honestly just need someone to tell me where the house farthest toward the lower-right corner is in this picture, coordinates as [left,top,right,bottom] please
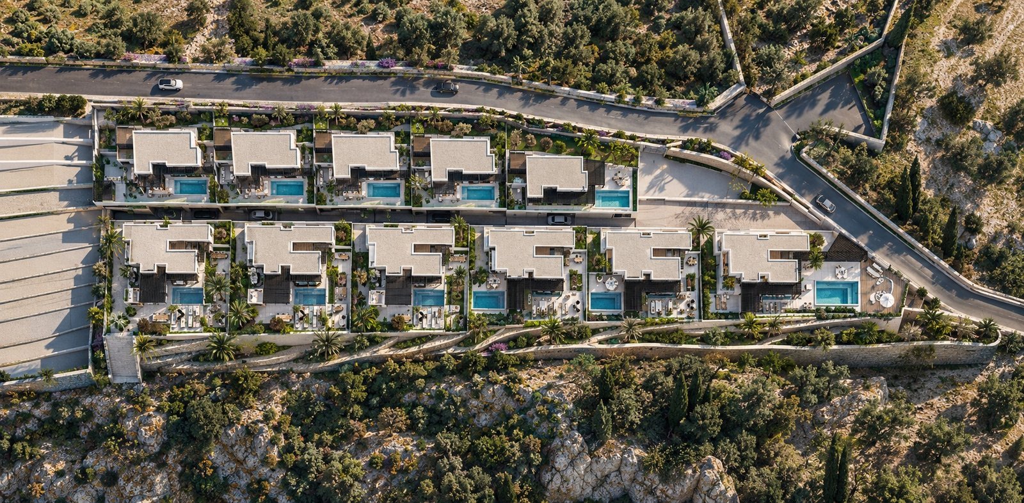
[718,232,813,317]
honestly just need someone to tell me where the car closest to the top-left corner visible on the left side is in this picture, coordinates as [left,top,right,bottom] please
[158,78,182,91]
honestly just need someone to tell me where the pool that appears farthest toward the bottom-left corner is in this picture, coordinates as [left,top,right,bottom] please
[168,286,204,305]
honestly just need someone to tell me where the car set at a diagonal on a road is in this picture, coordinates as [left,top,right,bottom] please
[814,195,837,213]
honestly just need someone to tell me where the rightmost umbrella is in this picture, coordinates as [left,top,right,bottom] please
[880,294,894,307]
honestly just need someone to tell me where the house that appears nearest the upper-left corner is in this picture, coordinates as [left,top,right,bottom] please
[115,126,215,193]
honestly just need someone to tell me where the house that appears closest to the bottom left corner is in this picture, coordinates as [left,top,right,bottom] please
[120,221,216,307]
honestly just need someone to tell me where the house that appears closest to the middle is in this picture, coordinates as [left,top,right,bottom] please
[486,227,578,315]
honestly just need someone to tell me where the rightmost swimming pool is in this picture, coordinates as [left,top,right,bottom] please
[812,280,863,306]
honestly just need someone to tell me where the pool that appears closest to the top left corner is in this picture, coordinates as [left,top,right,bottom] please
[169,177,207,195]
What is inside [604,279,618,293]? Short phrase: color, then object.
white umbrella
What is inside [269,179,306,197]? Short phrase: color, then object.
blue swimming pool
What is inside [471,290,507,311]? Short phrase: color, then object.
blue swimming pool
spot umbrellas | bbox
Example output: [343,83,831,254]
[604,279,618,293]
[880,294,894,307]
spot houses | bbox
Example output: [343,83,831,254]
[115,126,215,193]
[486,227,578,315]
[243,223,337,309]
[413,135,514,201]
[120,221,216,307]
[315,131,415,197]
[214,129,314,195]
[365,224,458,311]
[603,230,696,316]
[718,232,813,317]
[508,151,605,209]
